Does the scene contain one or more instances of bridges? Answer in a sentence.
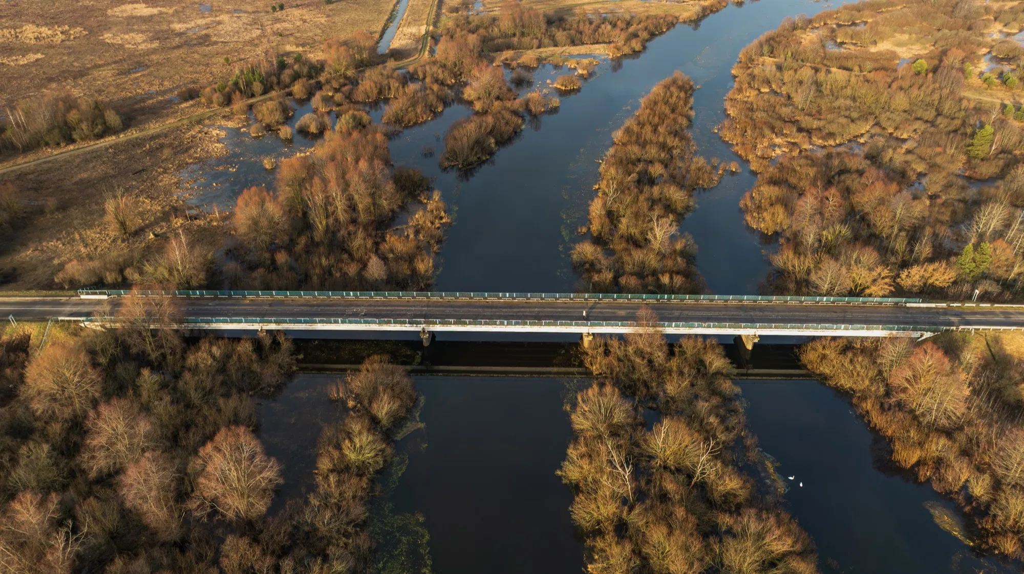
Yes, the picture does show a bridge.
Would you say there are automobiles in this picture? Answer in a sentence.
No, I find no automobile anywhere in the image.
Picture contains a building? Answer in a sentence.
No, there isn't any building down there.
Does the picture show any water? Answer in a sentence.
Yes, there's water in this view.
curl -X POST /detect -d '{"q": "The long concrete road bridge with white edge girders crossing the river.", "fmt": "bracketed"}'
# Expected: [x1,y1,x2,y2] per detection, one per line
[63,294,955,351]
